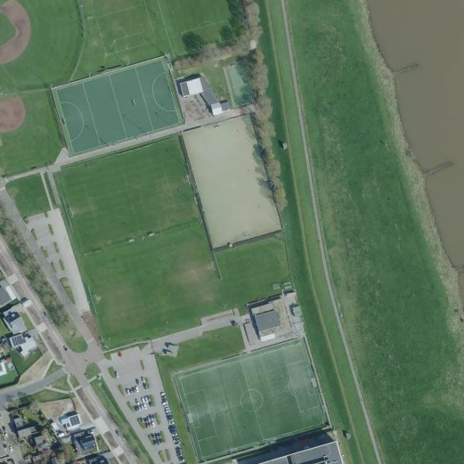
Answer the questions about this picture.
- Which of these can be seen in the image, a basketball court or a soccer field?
soccer field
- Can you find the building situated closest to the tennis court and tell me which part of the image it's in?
top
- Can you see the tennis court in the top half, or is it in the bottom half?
top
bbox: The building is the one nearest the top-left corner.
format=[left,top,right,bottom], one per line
[180,76,209,98]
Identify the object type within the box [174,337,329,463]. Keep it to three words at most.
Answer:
soccer field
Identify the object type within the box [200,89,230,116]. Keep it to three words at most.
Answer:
building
